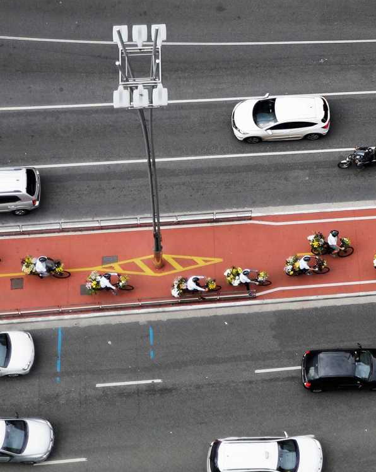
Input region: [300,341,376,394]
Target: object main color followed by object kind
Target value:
black car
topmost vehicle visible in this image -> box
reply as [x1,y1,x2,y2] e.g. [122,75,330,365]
[231,92,331,144]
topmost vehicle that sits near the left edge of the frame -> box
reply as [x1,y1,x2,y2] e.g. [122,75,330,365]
[0,167,41,216]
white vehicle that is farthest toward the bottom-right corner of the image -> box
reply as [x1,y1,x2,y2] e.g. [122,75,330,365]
[206,423,323,472]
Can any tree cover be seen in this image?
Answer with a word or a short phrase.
No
